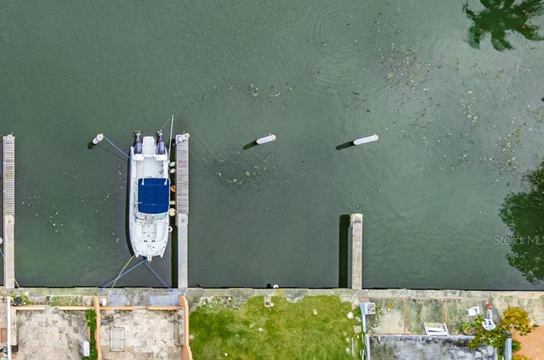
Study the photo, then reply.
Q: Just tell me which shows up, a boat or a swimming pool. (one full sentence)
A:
Visible in the photo is a boat.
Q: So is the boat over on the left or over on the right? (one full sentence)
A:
The boat appears in the left half of the scene.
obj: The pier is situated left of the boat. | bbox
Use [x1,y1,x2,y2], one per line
[2,136,15,290]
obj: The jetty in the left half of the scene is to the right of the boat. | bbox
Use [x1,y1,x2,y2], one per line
[171,134,190,290]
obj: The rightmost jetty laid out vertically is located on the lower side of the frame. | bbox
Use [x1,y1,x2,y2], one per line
[350,214,362,290]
